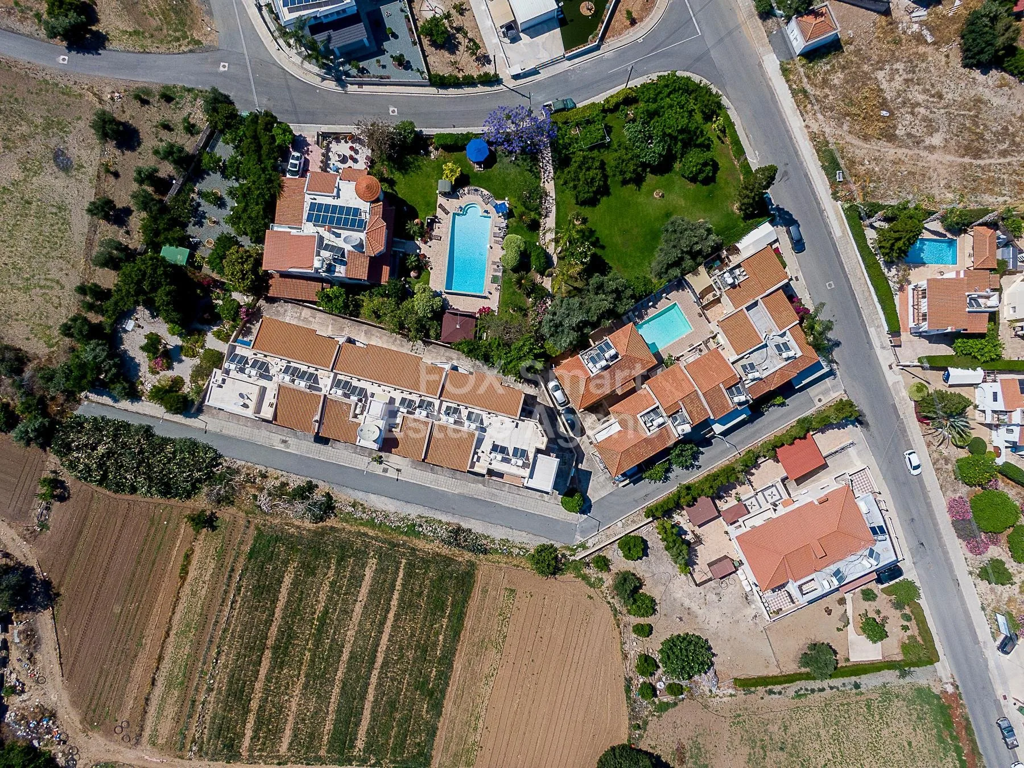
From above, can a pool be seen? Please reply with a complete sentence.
Yes, a pool can be made out from above.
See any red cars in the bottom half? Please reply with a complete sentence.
No, looking in the bottom half, there is no red car.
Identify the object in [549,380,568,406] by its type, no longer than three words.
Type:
car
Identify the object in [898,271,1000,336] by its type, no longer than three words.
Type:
house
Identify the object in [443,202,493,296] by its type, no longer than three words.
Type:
swimming pool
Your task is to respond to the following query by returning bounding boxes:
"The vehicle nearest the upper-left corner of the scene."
[287,151,302,178]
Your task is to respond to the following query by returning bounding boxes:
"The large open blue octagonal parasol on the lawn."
[466,140,488,162]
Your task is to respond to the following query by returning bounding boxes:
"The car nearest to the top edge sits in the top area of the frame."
[501,21,516,42]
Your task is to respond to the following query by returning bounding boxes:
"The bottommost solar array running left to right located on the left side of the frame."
[306,202,366,230]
